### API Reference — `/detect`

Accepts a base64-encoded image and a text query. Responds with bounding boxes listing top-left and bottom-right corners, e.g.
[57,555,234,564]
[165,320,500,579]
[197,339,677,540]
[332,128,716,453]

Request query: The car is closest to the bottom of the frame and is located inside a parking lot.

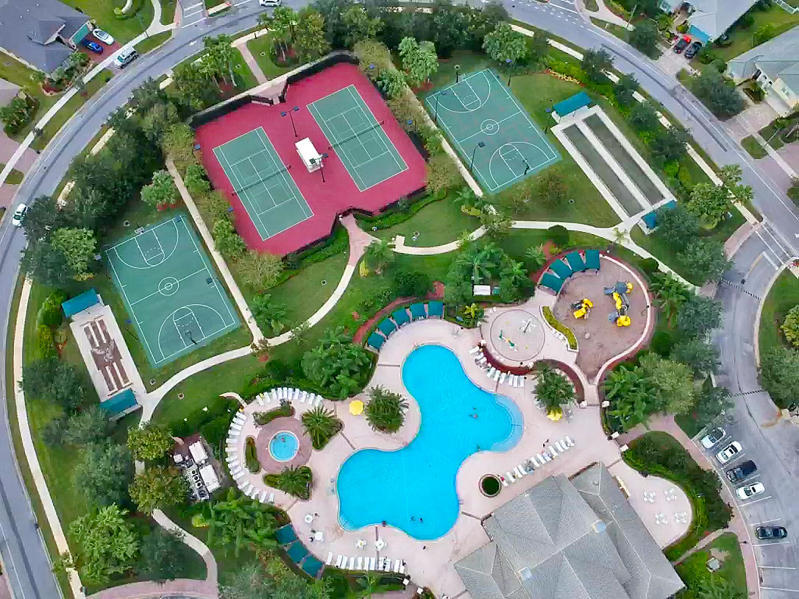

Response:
[758,525,790,539]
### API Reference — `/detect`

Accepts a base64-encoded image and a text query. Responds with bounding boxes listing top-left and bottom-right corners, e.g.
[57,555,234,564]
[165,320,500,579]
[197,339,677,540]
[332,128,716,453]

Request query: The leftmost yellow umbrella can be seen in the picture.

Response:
[348,399,364,415]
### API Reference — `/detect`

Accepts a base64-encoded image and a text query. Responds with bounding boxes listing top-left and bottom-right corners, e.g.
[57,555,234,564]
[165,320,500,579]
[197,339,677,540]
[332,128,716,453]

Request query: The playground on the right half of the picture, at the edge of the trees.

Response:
[543,253,652,382]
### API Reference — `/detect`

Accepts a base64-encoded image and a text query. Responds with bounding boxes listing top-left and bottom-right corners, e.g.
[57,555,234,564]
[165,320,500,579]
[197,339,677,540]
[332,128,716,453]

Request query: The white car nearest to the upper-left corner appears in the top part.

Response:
[92,27,112,43]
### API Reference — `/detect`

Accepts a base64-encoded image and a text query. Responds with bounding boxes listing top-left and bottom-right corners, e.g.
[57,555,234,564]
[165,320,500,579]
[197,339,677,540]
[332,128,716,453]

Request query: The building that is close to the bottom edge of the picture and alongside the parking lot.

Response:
[454,463,686,599]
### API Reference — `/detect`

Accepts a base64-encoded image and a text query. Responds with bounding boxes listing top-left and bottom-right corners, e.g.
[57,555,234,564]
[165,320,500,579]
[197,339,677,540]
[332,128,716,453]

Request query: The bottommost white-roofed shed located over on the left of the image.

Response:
[201,465,222,492]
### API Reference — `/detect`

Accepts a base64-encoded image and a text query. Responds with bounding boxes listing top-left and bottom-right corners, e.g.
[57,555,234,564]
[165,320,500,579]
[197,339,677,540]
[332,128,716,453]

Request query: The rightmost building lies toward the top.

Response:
[725,25,799,108]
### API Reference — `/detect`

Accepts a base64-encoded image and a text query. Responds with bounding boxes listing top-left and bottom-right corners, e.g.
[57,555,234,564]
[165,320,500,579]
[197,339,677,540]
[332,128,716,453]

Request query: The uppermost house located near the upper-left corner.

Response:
[0,0,92,76]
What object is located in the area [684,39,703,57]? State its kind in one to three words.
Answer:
car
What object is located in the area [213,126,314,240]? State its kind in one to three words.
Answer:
tennis court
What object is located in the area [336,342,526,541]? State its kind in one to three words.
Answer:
swimming pool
